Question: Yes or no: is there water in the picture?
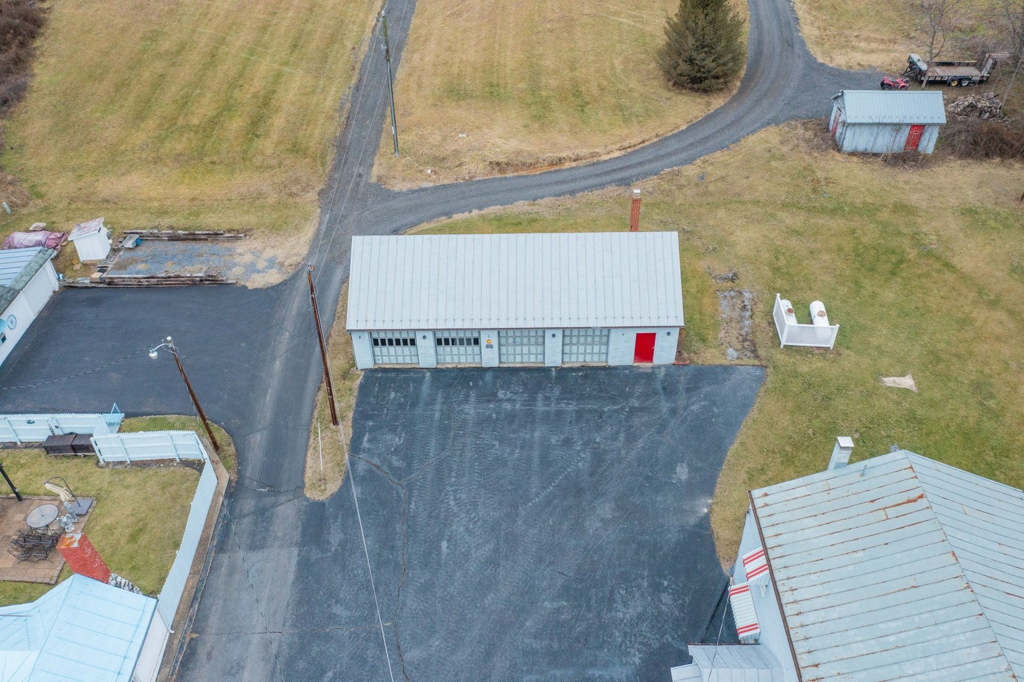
No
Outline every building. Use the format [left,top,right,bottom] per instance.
[0,531,171,682]
[0,244,61,368]
[66,212,109,260]
[674,435,1024,682]
[347,189,684,369]
[825,90,949,152]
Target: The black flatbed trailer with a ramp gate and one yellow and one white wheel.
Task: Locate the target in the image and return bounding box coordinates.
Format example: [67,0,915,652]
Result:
[900,44,1001,84]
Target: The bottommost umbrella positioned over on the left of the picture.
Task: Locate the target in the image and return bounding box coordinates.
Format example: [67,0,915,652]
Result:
[28,471,93,515]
